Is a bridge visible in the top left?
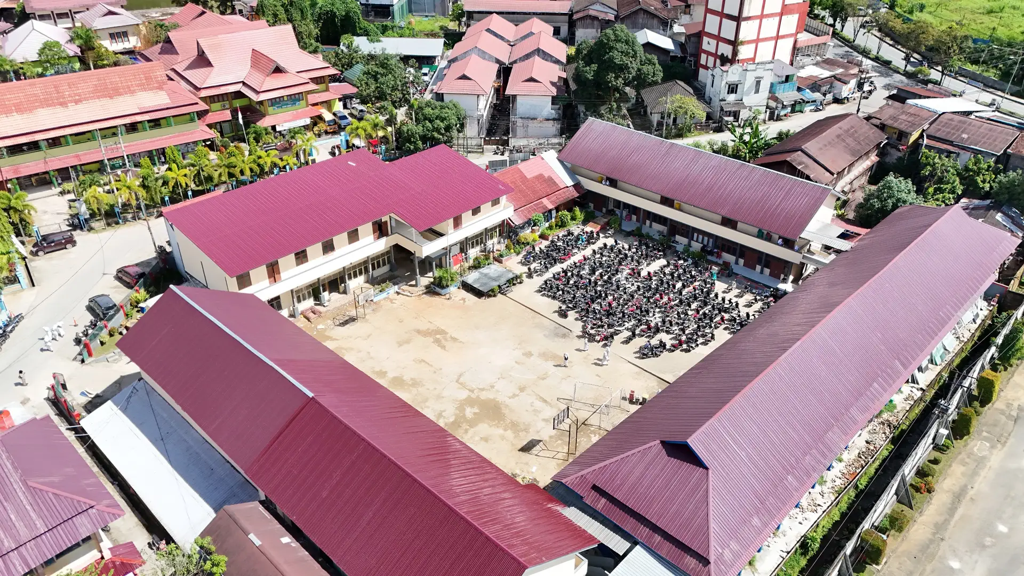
No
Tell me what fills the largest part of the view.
buildings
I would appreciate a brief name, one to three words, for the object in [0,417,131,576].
house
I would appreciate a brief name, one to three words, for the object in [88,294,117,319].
car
